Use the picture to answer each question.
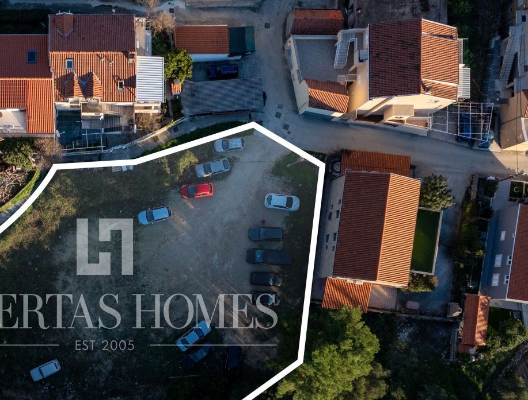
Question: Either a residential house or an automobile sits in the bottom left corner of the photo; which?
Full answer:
Looking in the bottom left corner of the photo, you will find an automobile.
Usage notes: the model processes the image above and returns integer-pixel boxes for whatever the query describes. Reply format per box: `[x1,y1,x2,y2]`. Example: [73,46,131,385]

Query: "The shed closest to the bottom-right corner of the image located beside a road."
[452,293,491,354]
